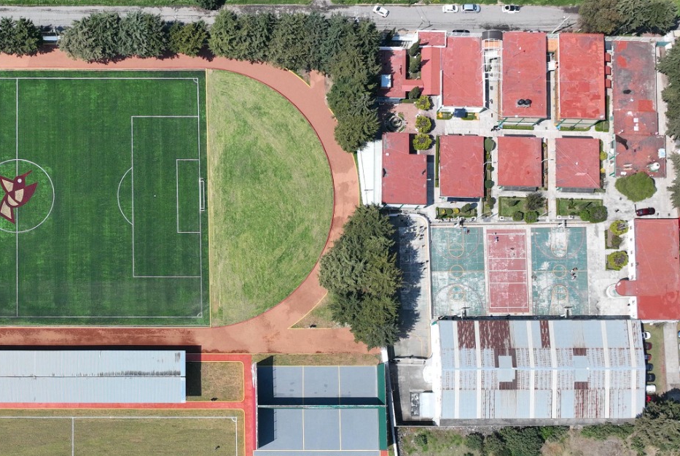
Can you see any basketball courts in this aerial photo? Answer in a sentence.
Yes, a basketball court can be made out from above.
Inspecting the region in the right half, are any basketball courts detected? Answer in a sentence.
Yes, I can see a basketball court in the right half.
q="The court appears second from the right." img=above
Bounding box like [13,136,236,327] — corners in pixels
[486,229,529,312]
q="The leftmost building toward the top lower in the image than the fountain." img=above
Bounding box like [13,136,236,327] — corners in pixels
[380,133,427,209]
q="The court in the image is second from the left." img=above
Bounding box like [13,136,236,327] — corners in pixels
[433,227,485,316]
